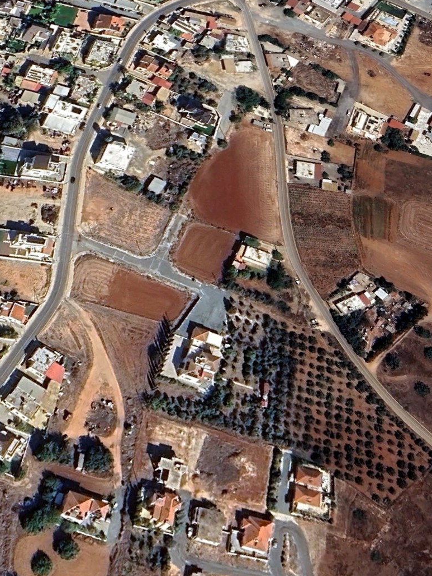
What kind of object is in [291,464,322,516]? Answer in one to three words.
house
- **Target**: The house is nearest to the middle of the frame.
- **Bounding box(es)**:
[233,244,271,270]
